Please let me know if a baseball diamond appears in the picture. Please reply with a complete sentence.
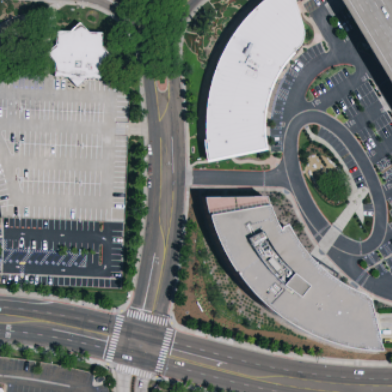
No, there's no baseball diamond here.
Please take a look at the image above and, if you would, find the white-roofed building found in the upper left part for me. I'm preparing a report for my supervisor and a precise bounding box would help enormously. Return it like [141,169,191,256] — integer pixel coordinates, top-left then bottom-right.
[51,26,108,86]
